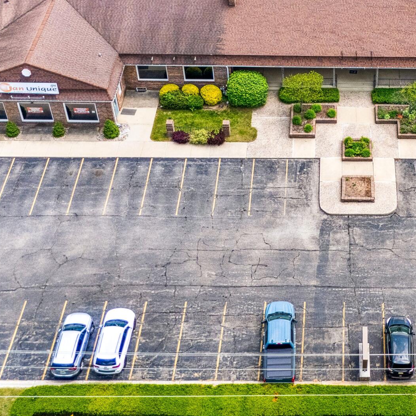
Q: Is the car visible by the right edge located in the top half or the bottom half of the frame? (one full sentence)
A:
The bottom half of the photo is where the car visible by the right edge is.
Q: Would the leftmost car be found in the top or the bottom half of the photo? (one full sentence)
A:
The leftmost car is in the bottom half of the image.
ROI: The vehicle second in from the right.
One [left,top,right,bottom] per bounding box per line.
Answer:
[262,300,297,382]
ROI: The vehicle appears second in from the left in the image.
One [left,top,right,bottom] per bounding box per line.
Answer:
[94,310,135,376]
